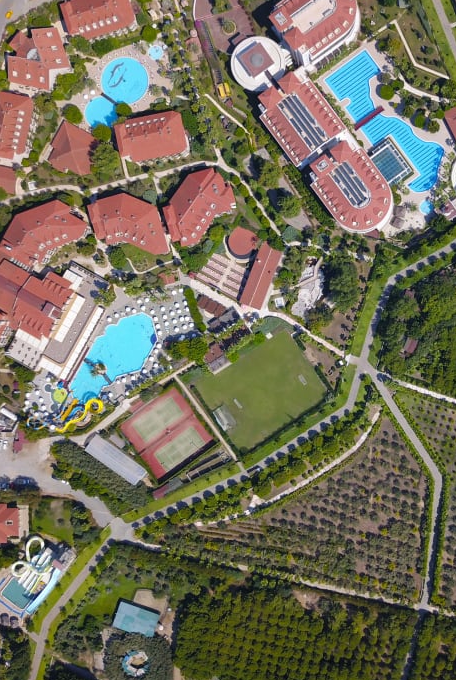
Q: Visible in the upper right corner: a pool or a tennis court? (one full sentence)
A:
The feature located in the upper right corner is a pool.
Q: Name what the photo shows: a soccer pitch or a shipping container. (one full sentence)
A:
It is a soccer pitch that can be seen here.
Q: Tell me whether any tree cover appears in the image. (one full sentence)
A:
Yes, the picture does contain tree cover.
